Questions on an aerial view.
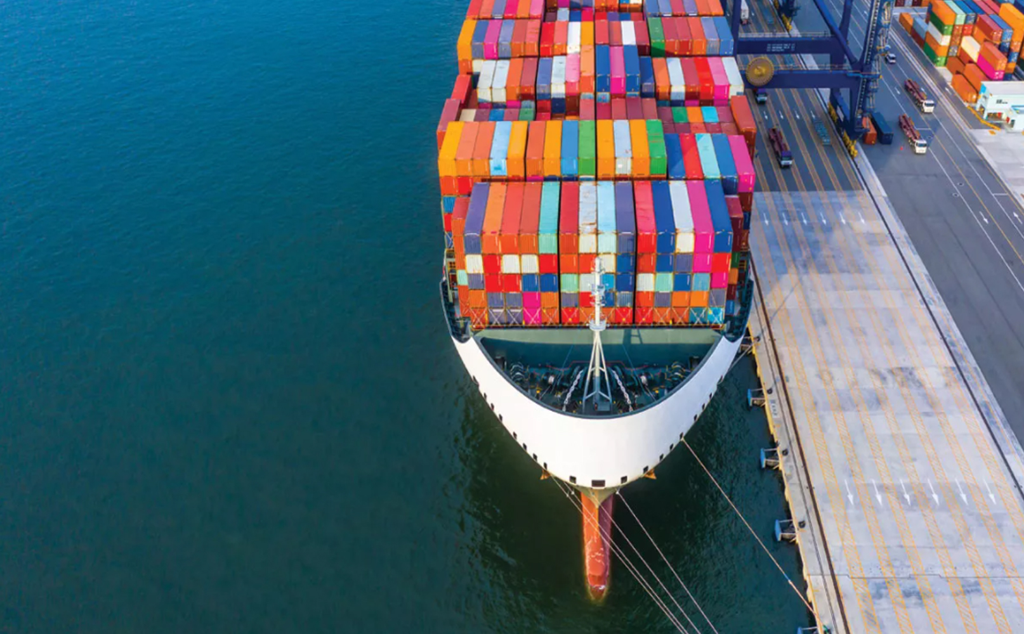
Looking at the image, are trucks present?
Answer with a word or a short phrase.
Yes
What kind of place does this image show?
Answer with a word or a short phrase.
port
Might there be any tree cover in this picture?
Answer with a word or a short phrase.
No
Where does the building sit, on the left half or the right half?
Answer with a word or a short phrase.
right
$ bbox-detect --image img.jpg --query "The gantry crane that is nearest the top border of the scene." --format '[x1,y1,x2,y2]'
[771,0,803,35]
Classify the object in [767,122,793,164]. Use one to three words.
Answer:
truck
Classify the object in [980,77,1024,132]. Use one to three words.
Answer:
building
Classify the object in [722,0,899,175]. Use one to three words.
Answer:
container crane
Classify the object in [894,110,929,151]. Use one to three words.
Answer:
truck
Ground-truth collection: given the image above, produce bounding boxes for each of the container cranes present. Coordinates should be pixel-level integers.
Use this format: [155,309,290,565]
[722,0,899,175]
[771,0,803,35]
